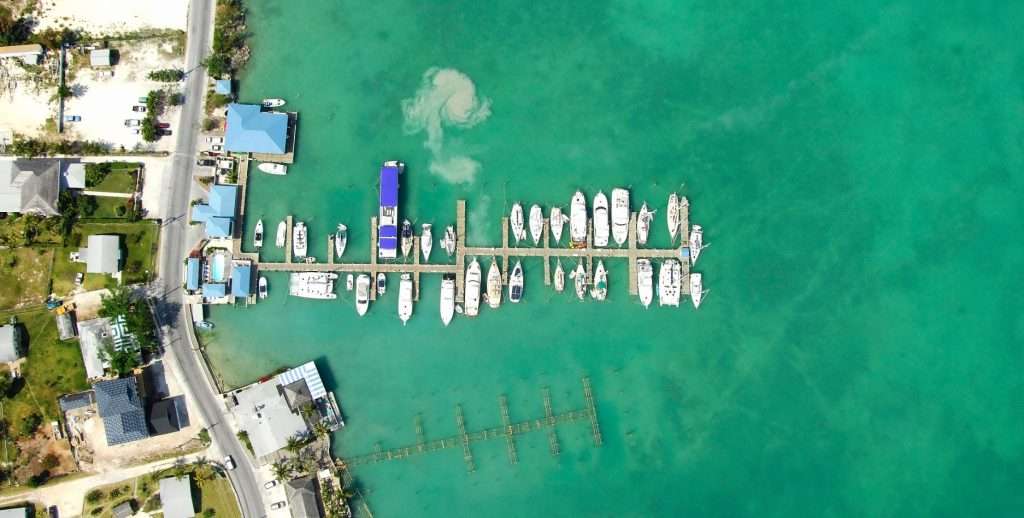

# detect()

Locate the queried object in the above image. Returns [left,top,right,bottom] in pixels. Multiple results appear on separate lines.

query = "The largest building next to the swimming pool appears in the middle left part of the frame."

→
[192,185,240,237]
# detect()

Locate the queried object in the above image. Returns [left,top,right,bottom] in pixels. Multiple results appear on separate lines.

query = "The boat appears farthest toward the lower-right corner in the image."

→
[689,267,707,308]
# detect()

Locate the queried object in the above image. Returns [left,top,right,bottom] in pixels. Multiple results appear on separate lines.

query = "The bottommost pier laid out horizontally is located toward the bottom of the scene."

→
[338,376,603,473]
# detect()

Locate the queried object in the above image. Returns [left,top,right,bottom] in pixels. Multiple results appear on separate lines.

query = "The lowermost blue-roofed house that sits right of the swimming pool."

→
[232,266,252,296]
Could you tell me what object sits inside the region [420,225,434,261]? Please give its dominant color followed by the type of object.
white boat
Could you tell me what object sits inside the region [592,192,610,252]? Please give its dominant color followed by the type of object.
white boat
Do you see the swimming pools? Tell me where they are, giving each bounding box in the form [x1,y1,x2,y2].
[207,251,228,284]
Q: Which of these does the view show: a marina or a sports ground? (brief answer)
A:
marina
